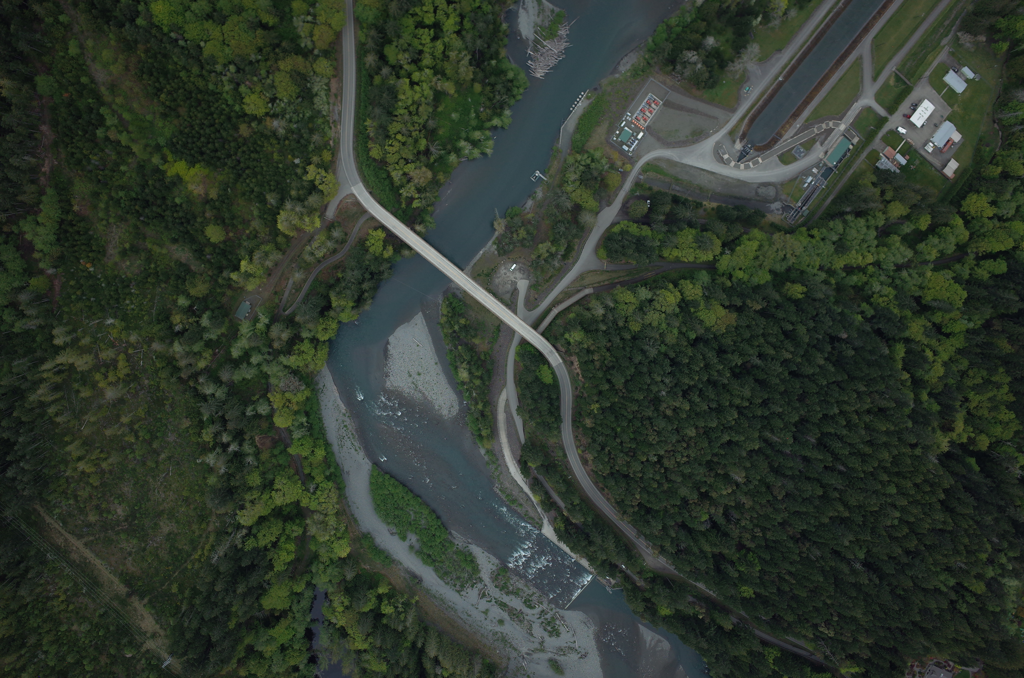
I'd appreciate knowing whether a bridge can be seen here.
Yes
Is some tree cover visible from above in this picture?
Yes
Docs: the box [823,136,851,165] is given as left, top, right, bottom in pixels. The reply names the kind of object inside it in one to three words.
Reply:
house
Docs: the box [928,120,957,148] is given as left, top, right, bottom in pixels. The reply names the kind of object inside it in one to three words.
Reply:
shed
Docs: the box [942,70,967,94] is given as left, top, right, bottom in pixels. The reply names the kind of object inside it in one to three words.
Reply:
house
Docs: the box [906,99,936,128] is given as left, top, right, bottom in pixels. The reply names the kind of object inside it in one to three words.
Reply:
building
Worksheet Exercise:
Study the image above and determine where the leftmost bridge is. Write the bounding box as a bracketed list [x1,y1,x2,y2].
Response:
[349,181,565,368]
